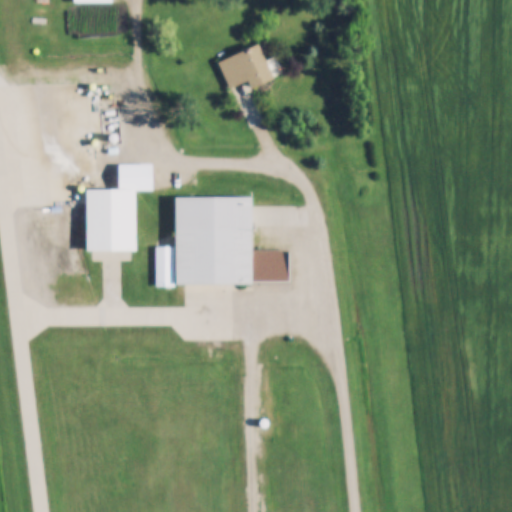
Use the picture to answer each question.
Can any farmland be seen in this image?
Yes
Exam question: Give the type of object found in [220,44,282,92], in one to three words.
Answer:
house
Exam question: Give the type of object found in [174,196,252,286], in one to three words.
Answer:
barn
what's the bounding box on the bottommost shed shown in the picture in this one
[154,246,174,288]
